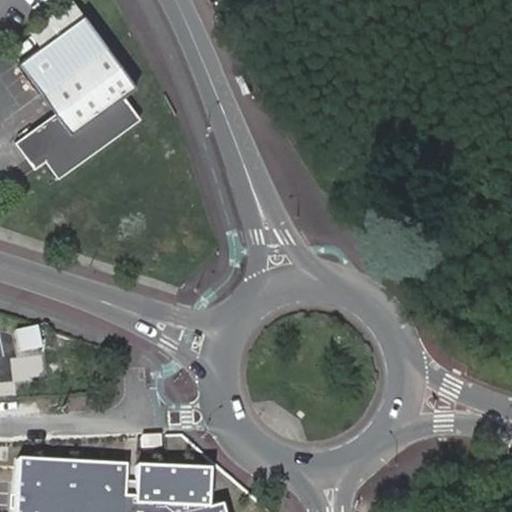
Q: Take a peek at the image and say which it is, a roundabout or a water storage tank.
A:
roundabout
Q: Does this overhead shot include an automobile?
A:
Yes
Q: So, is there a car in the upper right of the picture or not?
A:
No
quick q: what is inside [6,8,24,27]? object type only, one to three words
car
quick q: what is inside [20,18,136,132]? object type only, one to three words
building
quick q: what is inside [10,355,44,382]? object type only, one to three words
shed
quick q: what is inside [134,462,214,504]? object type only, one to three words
building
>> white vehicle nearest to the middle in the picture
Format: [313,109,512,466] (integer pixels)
[134,320,158,338]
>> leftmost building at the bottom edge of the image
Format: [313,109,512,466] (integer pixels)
[9,456,130,512]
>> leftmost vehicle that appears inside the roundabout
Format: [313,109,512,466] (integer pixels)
[232,398,245,418]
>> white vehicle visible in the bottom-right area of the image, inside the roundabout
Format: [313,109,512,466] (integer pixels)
[390,398,402,418]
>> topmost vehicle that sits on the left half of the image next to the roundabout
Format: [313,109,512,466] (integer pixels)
[191,361,206,380]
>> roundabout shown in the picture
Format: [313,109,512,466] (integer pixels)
[206,266,424,484]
